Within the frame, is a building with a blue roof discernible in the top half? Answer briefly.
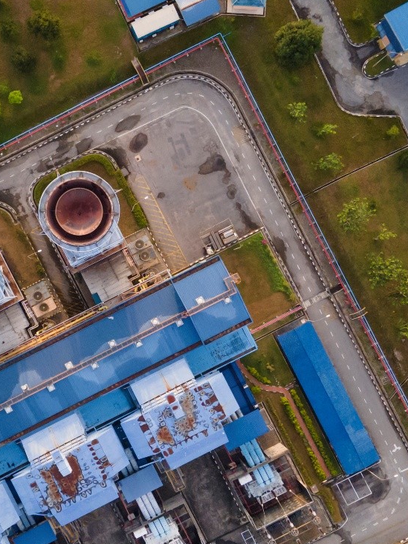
Yes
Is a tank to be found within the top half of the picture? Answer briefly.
No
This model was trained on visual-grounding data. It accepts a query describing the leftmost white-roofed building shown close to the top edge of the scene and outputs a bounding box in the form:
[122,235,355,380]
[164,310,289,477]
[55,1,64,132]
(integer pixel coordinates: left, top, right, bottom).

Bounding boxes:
[131,1,180,44]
